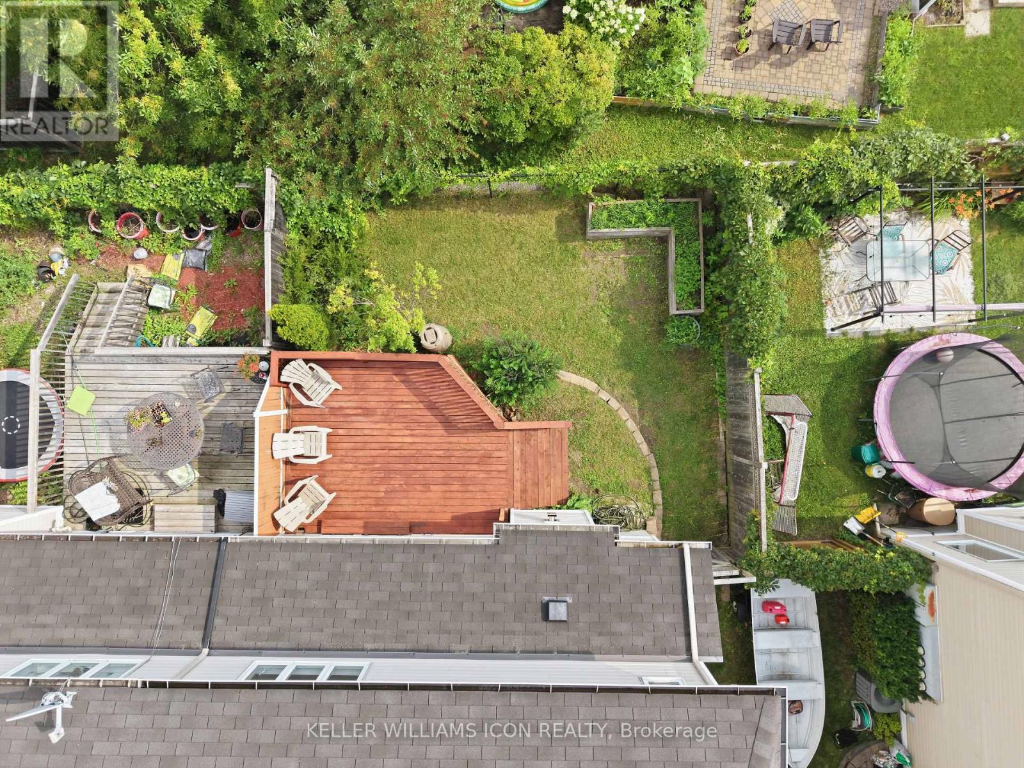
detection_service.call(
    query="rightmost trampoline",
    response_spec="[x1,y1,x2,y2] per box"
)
[862,329,1024,511]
